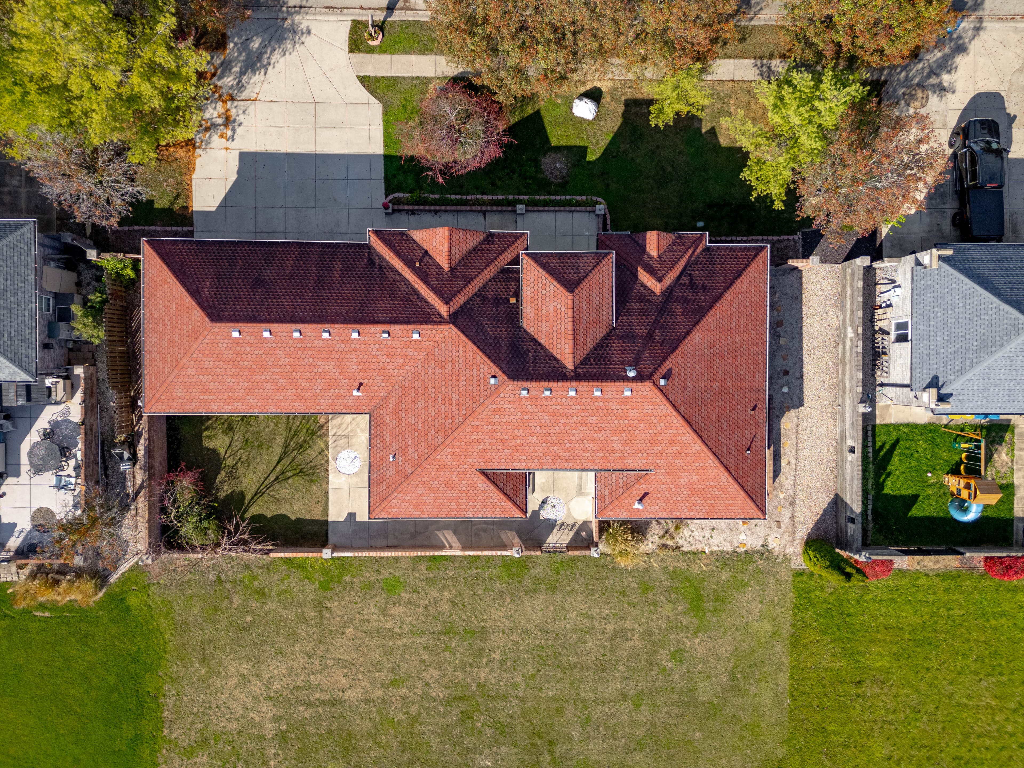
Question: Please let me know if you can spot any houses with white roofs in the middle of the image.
No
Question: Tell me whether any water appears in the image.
No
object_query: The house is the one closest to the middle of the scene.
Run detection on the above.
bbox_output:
[140,225,770,521]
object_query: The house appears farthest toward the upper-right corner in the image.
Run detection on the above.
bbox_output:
[884,241,1024,417]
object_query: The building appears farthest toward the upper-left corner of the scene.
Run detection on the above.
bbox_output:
[0,217,68,384]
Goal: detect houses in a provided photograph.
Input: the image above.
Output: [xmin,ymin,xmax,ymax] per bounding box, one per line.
[884,241,1024,417]
[140,225,770,521]
[0,217,68,384]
